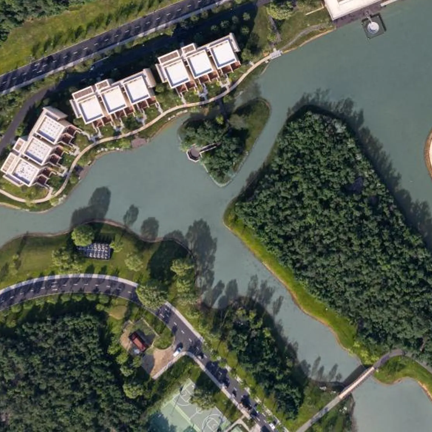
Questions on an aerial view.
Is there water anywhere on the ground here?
Yes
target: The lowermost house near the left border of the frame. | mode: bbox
[1,152,54,187]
